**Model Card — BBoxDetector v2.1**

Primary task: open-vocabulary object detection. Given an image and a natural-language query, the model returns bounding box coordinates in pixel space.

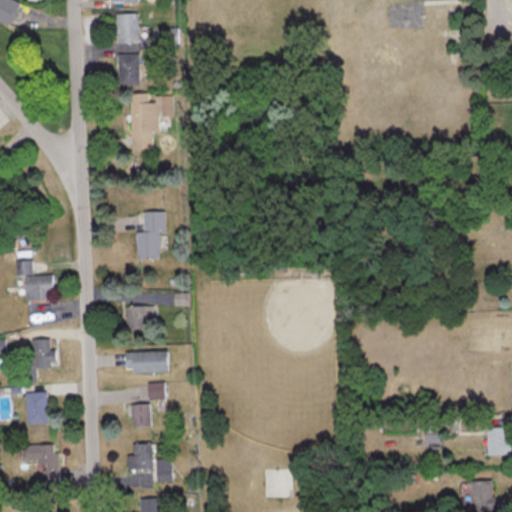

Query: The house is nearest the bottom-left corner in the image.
[20,445,65,474]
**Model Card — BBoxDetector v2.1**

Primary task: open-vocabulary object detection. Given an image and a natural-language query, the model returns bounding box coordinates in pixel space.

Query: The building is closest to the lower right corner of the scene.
[462,480,495,512]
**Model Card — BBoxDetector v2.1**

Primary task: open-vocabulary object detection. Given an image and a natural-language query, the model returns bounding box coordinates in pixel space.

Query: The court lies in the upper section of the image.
[388,2,424,28]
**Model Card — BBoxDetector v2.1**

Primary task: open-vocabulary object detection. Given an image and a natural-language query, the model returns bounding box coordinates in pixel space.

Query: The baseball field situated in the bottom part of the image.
[266,278,336,353]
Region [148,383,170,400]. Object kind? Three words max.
building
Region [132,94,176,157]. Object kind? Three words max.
house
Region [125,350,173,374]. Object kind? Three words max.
house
